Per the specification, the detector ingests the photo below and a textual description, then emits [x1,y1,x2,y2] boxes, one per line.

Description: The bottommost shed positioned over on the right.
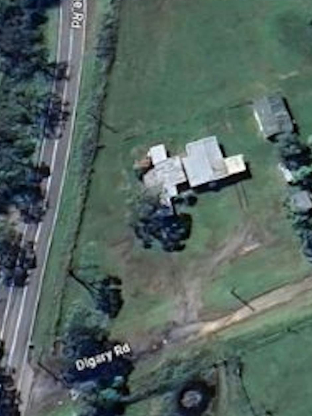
[290,191,312,214]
